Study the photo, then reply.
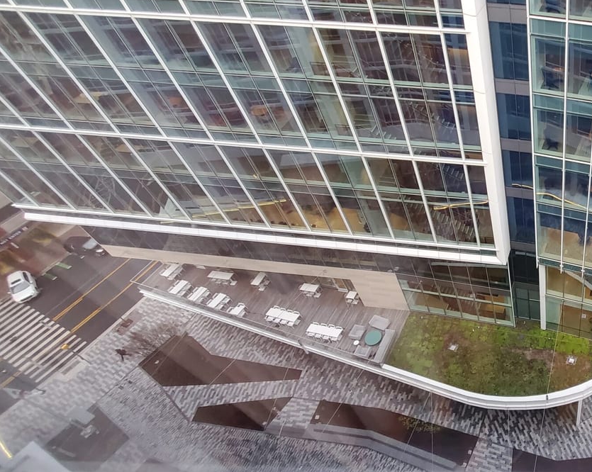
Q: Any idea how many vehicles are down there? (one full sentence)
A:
Altogether the scene contains 2 vehicles.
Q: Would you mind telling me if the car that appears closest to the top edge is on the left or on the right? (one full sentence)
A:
The car that appears closest to the top edge is on the left side of the image.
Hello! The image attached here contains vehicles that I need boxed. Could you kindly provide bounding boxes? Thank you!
[70,236,103,264]
[6,270,38,306]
